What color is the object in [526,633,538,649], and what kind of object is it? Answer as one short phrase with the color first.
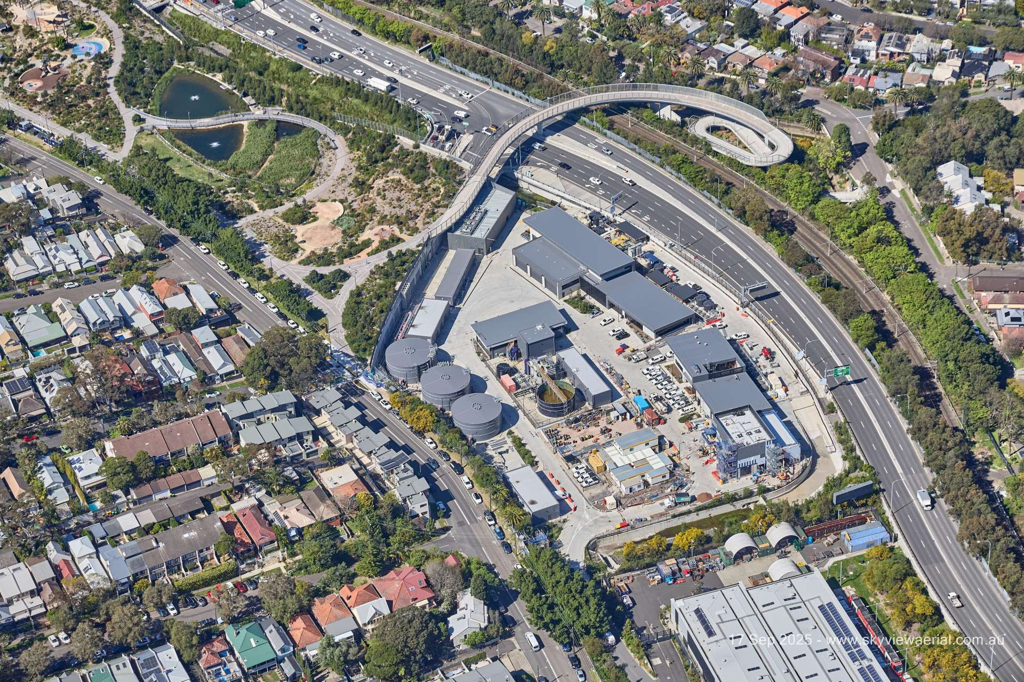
white vehicle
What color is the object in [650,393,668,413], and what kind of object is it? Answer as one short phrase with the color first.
white vehicle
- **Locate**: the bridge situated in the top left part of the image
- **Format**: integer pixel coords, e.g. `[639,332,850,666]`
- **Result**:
[122,106,339,140]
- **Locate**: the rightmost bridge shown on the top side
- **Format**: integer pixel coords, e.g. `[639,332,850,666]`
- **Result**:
[415,84,795,237]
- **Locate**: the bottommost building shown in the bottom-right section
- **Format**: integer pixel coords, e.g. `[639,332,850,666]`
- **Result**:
[673,569,882,682]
